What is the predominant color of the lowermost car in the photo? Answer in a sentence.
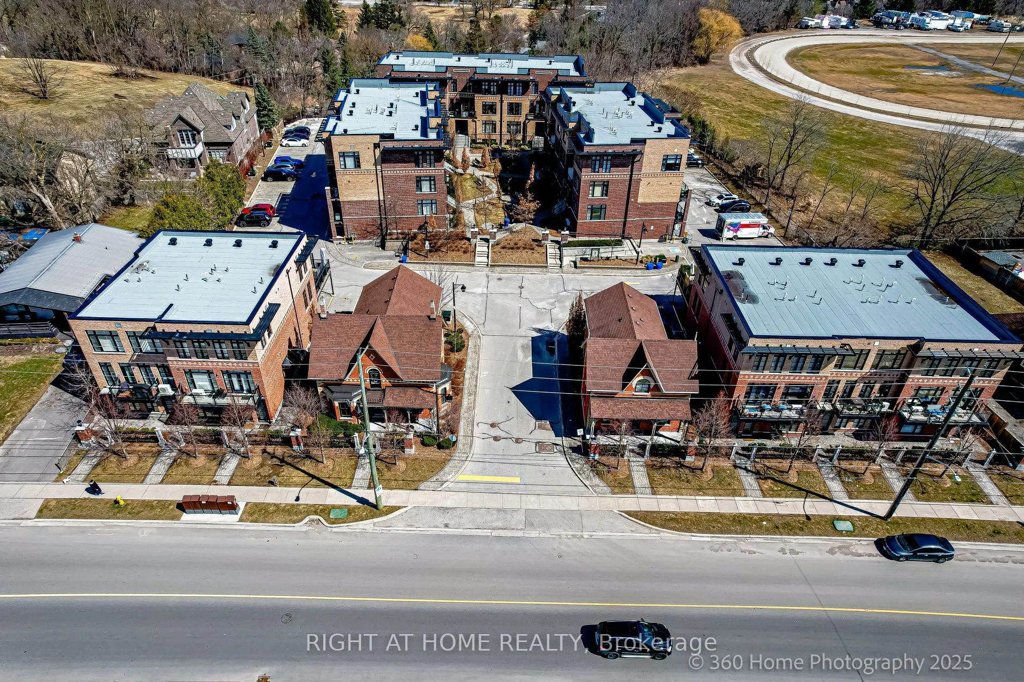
The lowermost car is black.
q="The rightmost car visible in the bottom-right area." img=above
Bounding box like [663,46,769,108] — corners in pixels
[878,534,954,568]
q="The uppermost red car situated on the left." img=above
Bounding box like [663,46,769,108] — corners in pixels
[244,203,280,217]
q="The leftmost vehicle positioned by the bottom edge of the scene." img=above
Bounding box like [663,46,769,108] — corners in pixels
[595,621,668,661]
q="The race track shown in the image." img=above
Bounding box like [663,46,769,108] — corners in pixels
[756,35,1024,125]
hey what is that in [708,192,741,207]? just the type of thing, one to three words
car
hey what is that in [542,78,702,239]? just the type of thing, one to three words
building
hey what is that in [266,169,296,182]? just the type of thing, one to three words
vehicle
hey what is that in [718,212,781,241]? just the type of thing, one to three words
truck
